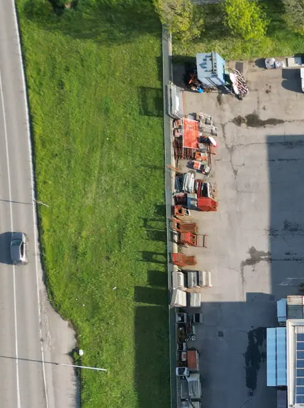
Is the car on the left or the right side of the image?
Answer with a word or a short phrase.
left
